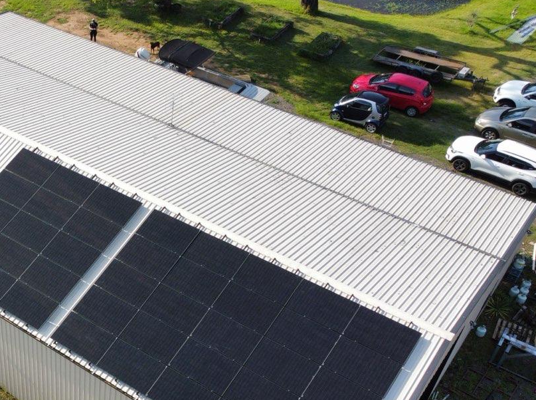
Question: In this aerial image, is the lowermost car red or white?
white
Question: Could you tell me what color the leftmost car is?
black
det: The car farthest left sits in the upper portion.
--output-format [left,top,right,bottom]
[330,89,394,134]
